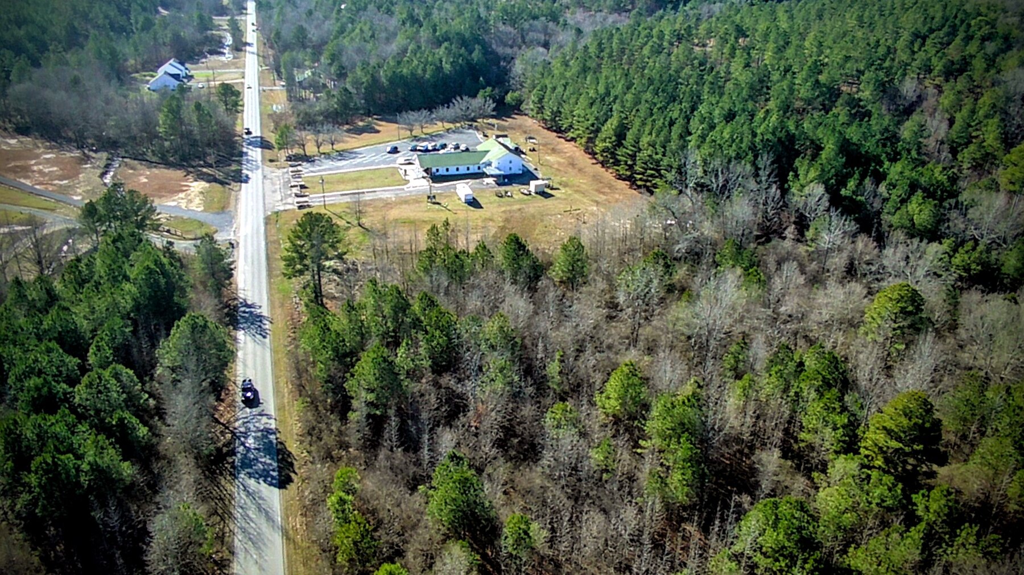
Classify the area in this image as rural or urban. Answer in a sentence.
This place is rural.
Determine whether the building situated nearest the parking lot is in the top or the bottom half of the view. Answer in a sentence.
The building situated nearest the parking lot is in the top half of the image.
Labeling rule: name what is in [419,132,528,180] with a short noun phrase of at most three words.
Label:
building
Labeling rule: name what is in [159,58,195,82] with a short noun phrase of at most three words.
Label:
house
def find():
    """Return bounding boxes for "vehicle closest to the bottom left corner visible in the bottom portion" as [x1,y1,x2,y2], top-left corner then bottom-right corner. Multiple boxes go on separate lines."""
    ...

[239,377,254,402]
